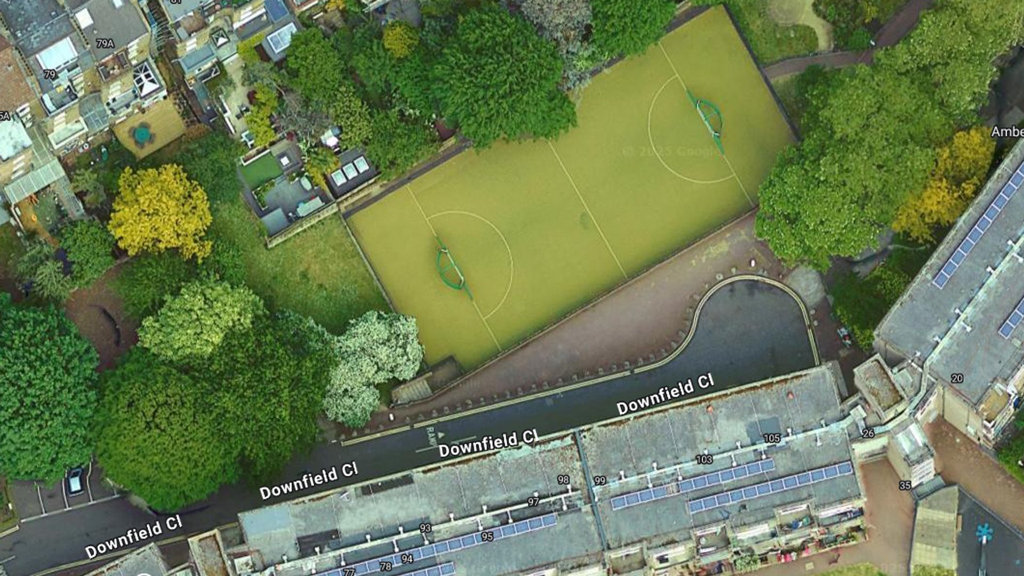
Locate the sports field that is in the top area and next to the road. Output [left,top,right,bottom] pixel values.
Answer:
[346,6,811,369]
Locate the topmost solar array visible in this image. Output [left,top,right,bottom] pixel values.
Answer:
[933,154,1024,285]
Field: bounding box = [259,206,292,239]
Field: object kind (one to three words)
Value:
shed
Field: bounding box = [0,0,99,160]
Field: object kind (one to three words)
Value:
house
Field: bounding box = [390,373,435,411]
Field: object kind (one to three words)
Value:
shed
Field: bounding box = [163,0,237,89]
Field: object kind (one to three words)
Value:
house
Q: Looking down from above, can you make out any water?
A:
No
